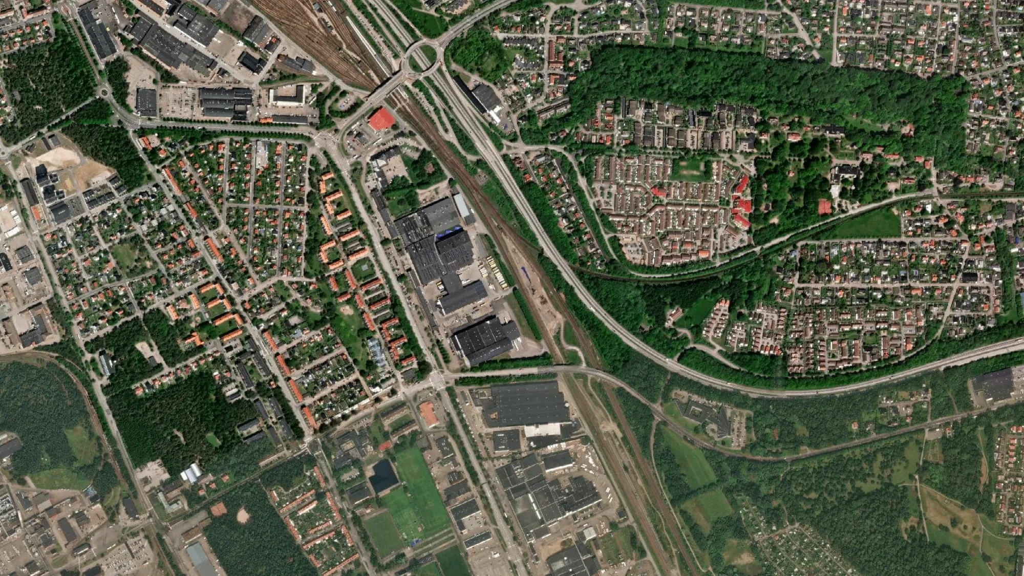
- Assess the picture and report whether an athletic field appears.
Yes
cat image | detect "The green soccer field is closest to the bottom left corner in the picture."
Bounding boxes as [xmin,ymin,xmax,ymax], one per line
[365,510,403,558]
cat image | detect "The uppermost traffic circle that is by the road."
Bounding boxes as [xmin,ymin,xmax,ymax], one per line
[402,40,444,80]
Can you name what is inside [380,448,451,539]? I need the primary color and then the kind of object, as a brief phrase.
green sports field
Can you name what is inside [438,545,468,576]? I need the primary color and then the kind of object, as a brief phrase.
green soccer field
